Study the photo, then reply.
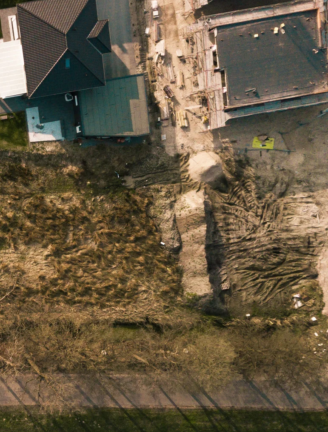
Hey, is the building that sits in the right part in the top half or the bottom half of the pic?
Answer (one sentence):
The building that sits in the right part is in the top half of the image.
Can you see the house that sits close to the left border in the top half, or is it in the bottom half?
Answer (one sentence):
It is in the top half that the house that sits close to the left border appears.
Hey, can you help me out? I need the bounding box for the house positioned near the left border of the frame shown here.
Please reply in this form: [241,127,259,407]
[15,0,111,99]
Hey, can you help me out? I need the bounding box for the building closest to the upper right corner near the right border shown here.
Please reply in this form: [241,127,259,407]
[203,7,328,109]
